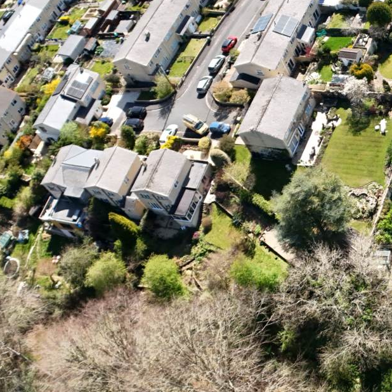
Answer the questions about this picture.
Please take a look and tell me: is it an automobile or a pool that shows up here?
automobile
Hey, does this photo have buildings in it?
Yes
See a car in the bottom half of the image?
No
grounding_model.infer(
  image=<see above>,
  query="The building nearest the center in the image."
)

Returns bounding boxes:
[125,148,214,225]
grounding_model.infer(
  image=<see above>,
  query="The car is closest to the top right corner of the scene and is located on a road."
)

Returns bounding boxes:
[220,37,239,53]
